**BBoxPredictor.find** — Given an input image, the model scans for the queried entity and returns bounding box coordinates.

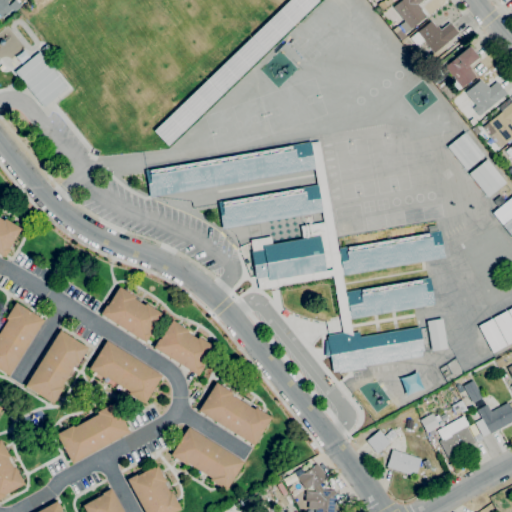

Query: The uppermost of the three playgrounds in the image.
[262,52,297,87]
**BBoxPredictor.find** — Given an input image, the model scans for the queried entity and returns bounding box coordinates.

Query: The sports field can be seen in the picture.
[31,0,288,156]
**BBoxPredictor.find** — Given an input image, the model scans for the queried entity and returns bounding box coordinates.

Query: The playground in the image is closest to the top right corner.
[405,81,438,114]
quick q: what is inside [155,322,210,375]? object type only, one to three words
building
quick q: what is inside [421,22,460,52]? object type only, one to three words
house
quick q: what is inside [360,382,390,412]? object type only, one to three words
playground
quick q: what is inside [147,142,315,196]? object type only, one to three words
building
